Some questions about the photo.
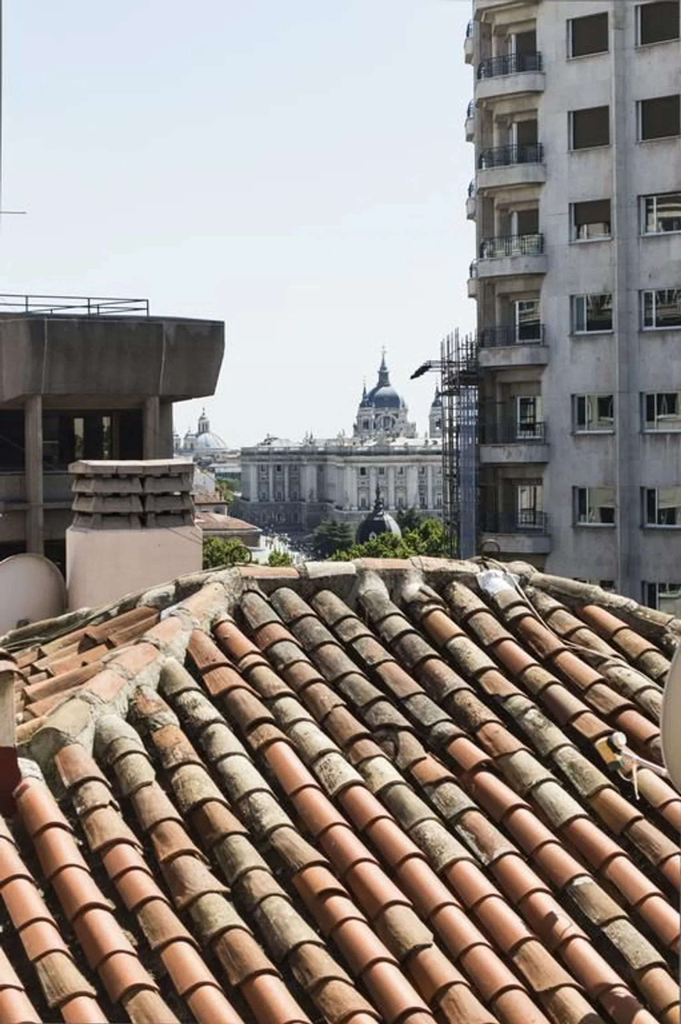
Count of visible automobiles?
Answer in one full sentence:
I count no automobiles.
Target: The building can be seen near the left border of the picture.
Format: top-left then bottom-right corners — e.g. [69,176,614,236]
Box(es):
[0,297,222,619]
